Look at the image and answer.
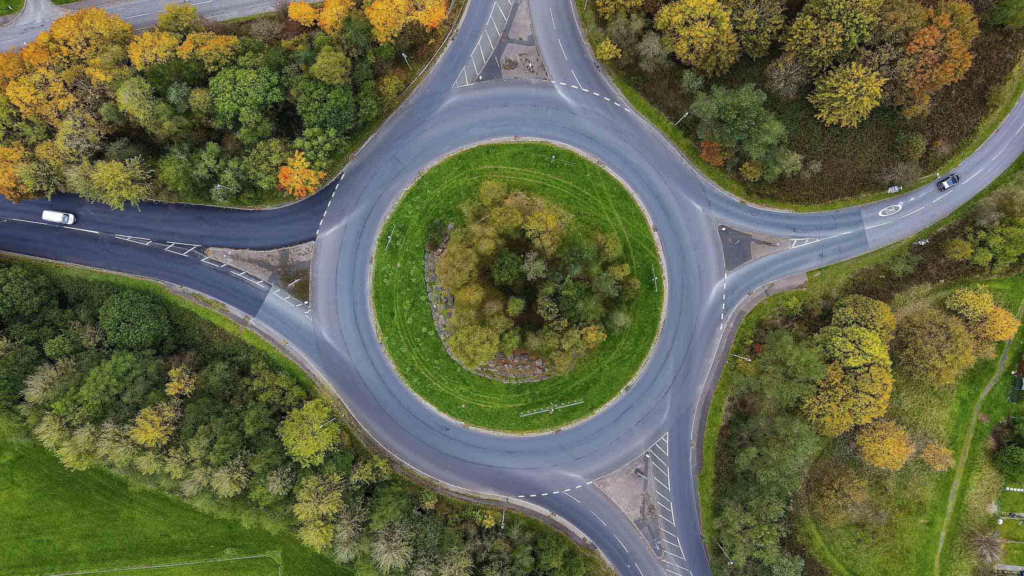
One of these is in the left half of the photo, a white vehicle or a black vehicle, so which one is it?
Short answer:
white vehicle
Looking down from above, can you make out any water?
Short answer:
No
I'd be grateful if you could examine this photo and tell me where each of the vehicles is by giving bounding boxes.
[934,173,960,193]
[41,210,81,226]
